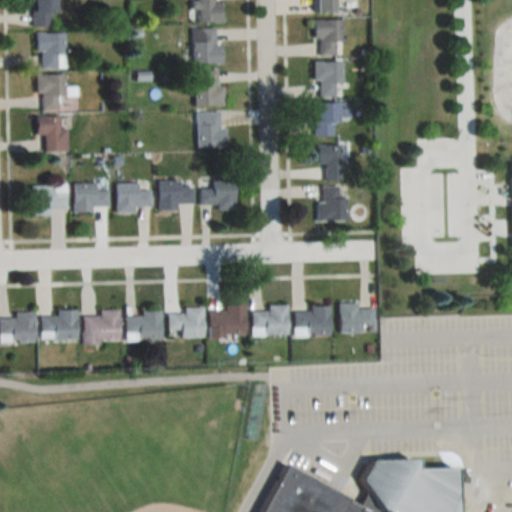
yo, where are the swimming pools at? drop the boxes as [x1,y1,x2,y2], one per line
[226,343,240,356]
[148,88,161,101]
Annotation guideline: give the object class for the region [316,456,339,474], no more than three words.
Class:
vehicle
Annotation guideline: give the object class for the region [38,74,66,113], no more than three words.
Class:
house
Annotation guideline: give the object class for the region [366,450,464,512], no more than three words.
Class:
building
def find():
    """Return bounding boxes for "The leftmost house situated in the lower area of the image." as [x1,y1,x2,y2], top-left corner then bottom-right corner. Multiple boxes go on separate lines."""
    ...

[0,312,38,346]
